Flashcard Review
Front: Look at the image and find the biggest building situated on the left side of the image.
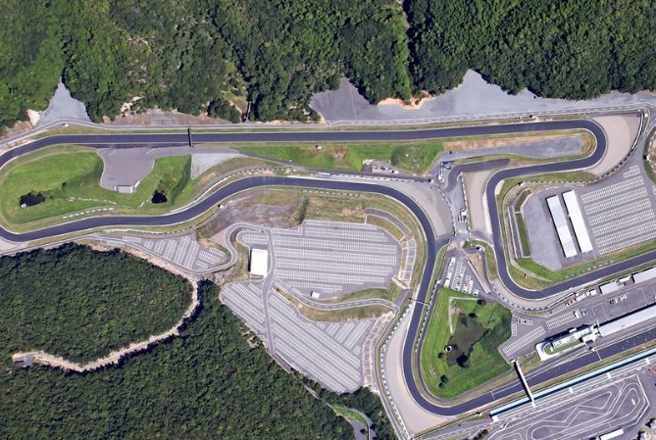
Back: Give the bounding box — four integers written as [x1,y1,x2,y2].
[250,249,268,276]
